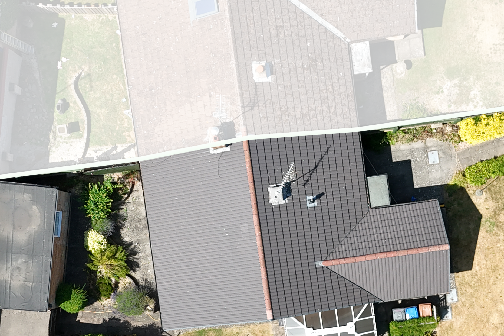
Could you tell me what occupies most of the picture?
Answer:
buildings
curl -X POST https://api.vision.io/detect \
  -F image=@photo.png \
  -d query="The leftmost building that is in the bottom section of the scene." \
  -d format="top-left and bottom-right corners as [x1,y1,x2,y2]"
[0,179,69,311]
